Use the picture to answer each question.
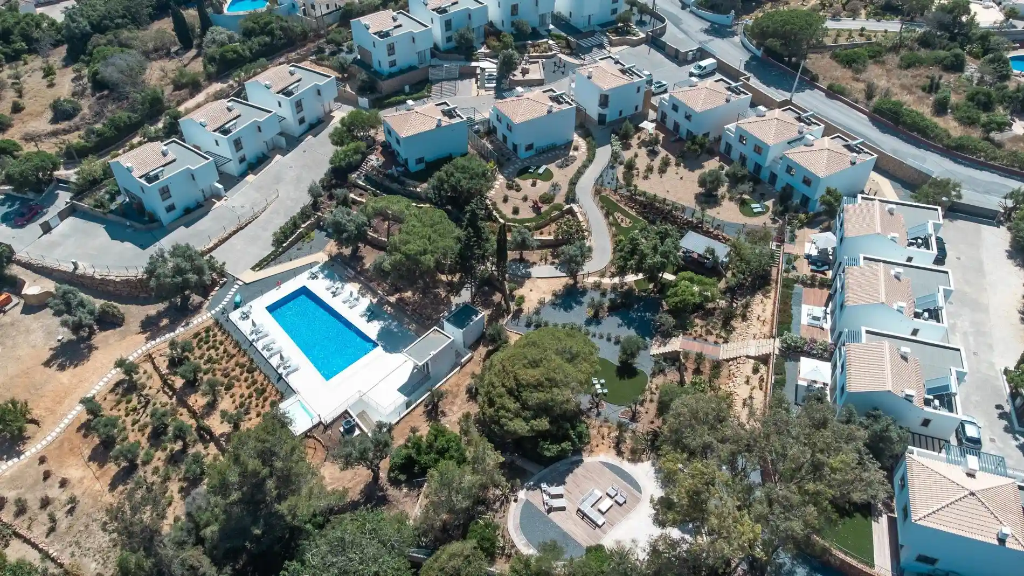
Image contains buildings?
Yes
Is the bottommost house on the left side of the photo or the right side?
right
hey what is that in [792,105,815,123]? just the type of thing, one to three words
solar panel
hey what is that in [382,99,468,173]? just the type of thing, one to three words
house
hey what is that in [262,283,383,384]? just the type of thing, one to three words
swimming pool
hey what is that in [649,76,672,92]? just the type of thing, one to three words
car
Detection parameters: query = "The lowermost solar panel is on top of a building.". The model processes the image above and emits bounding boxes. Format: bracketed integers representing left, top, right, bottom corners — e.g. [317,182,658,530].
[929,368,961,396]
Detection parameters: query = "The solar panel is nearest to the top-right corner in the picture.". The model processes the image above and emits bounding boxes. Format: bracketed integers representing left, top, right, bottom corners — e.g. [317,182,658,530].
[842,134,867,152]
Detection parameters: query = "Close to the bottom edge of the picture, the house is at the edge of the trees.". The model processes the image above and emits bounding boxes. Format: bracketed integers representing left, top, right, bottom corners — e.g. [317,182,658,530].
[889,441,1024,576]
